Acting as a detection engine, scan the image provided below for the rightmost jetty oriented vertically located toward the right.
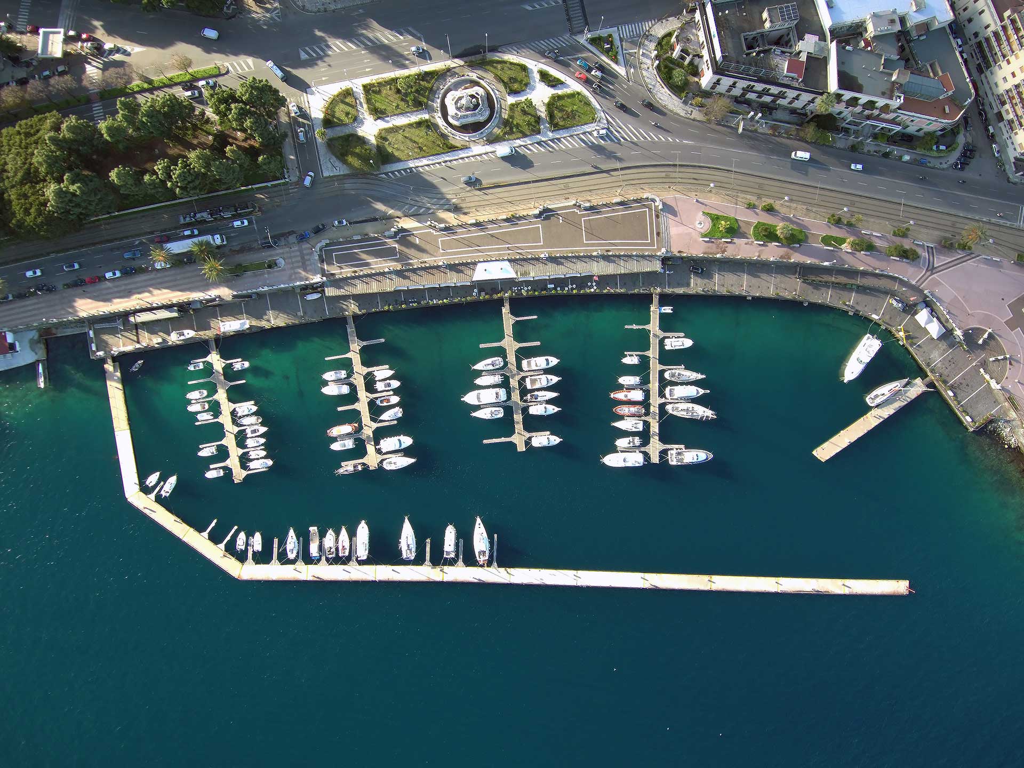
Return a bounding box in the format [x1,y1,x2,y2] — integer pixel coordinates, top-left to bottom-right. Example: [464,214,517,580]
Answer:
[616,293,692,463]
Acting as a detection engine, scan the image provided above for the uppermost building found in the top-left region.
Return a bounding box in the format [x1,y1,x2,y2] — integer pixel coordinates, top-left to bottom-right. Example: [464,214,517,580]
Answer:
[37,28,73,64]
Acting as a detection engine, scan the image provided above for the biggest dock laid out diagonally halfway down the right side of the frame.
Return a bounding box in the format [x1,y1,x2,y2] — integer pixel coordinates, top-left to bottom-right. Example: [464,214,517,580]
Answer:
[811,378,930,462]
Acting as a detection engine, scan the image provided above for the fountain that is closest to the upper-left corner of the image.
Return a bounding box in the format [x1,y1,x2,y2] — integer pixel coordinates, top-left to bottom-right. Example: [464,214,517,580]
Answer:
[432,70,503,142]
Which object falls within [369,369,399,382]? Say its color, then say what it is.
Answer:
white boat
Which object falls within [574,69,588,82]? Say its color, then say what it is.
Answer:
red vehicle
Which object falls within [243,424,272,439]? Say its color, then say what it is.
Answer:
white boat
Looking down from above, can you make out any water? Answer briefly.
Yes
